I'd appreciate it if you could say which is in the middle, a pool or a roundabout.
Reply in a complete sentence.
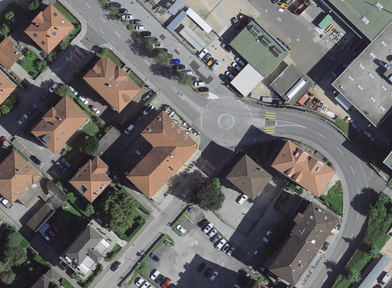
You can see a roundabout in the middle.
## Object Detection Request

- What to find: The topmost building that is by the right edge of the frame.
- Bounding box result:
[328,0,392,42]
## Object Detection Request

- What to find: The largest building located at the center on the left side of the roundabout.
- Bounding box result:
[127,110,198,198]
